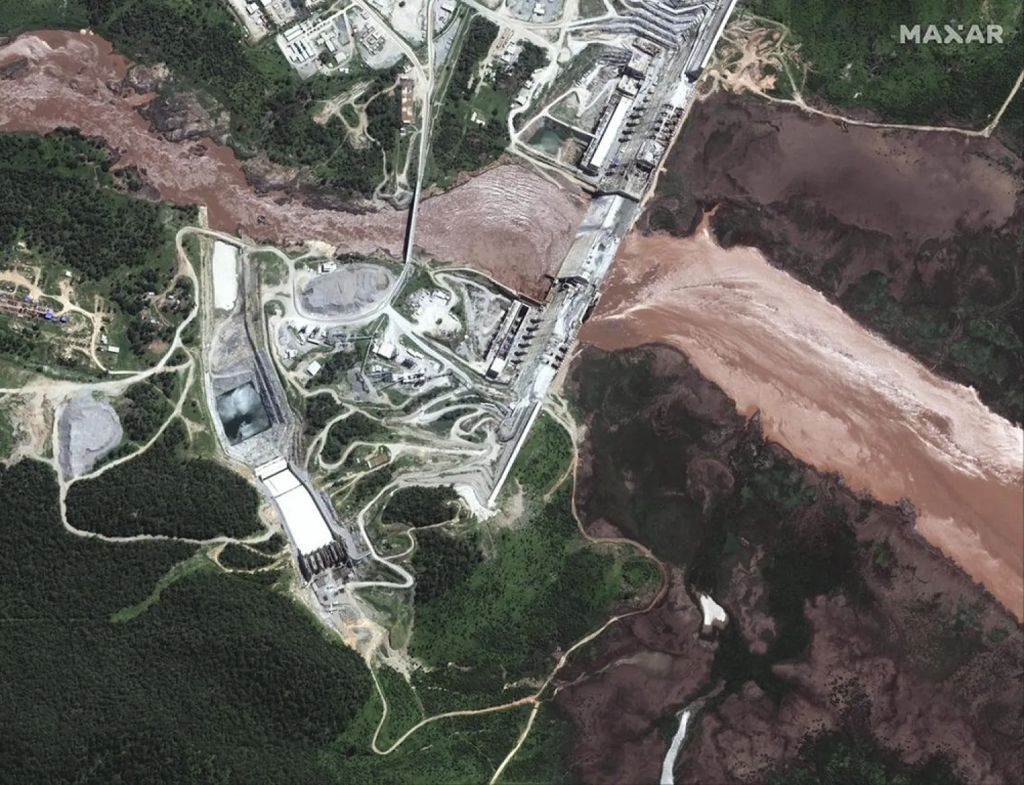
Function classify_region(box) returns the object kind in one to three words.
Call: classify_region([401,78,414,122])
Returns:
building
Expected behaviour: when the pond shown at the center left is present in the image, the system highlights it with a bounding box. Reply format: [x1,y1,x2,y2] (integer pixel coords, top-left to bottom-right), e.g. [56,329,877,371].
[216,382,271,445]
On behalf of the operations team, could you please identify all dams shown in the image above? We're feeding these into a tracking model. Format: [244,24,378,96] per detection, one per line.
[488,0,735,506]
